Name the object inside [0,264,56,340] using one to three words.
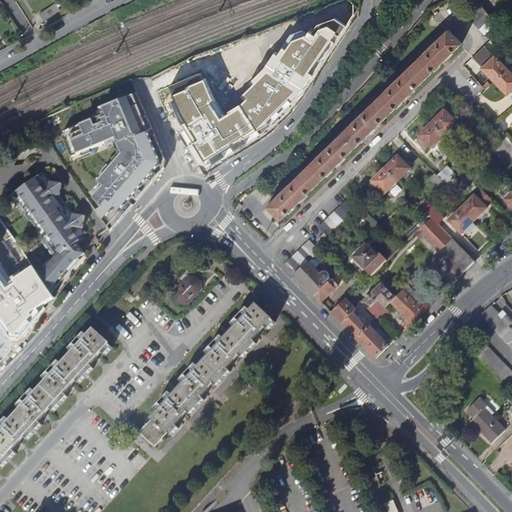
building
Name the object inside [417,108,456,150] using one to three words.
house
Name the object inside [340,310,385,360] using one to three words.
house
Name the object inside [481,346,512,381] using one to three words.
building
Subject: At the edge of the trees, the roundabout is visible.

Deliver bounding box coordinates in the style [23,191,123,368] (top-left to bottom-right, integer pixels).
[160,174,220,238]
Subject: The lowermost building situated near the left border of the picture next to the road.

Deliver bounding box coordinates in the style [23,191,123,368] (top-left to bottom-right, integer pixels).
[0,326,112,459]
